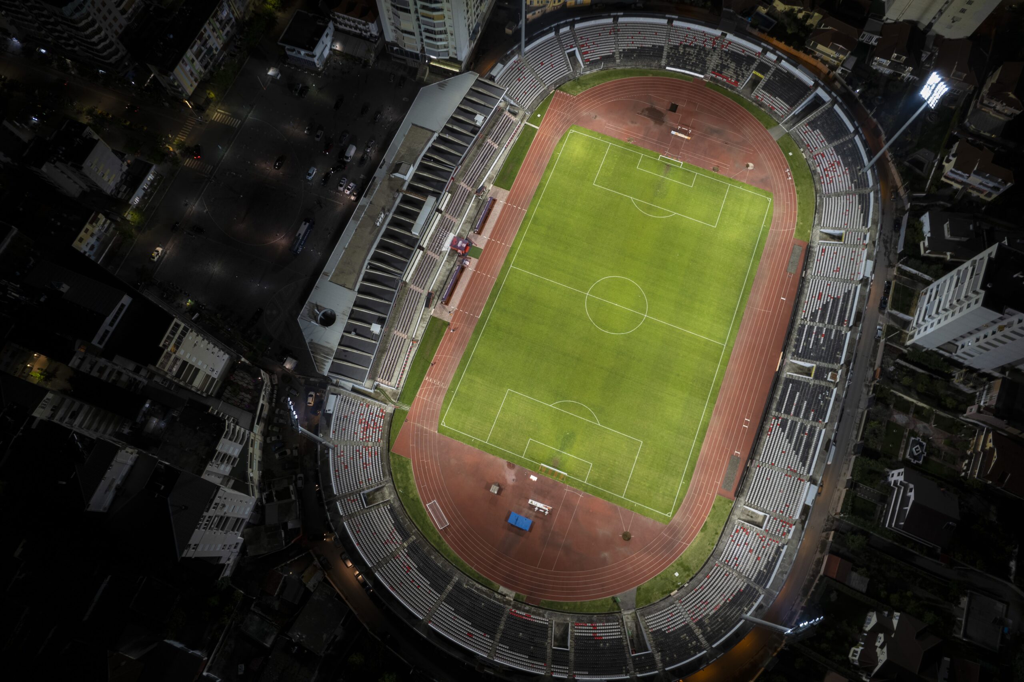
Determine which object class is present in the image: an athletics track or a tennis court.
athletics track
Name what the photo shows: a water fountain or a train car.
water fountain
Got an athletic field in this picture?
Yes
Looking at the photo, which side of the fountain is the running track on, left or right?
on the left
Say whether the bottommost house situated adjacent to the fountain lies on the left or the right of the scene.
right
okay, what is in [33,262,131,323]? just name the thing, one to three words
shed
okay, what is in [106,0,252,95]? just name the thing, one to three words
building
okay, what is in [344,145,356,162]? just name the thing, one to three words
vehicle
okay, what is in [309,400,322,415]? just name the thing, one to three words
vehicle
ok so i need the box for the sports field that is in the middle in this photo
[437,124,775,525]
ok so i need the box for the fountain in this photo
[905,435,931,467]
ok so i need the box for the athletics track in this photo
[391,75,807,607]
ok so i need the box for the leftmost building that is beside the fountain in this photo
[888,469,961,548]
